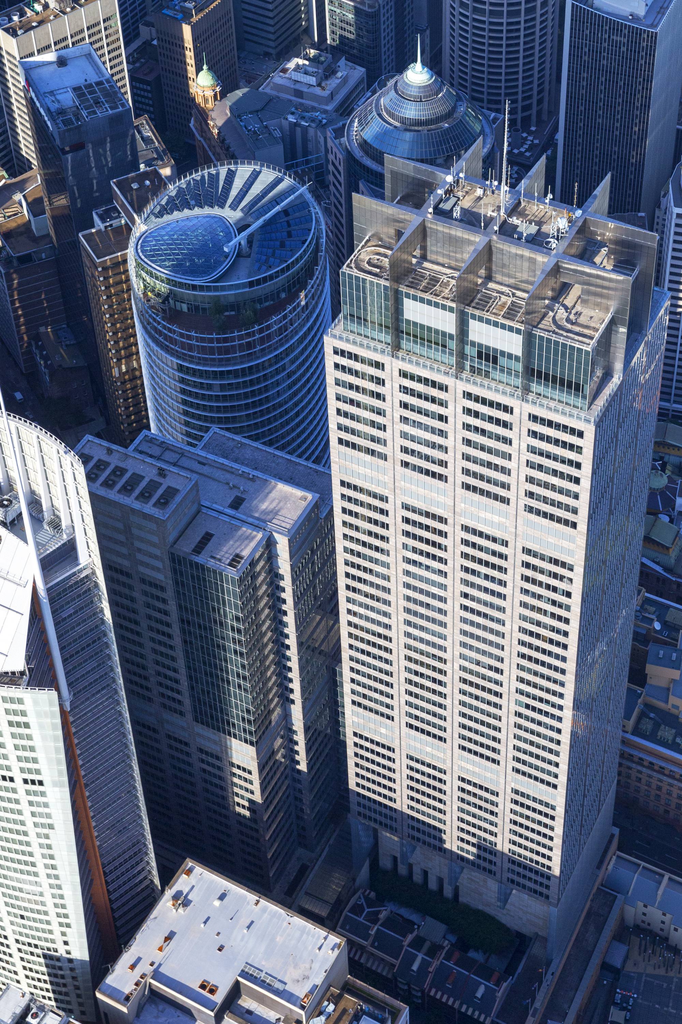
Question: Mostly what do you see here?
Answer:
buildings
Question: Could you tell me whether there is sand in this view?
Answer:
No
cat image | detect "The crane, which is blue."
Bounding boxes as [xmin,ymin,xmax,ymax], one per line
[218,176,316,261]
